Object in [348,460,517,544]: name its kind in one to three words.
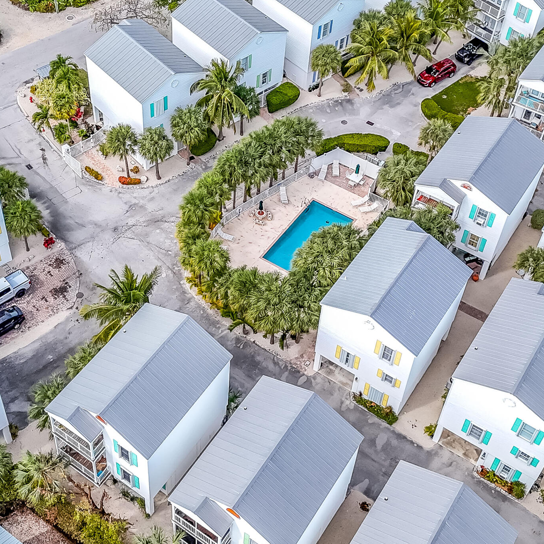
house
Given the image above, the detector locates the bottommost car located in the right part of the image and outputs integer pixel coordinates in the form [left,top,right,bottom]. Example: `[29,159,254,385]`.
[415,54,460,85]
